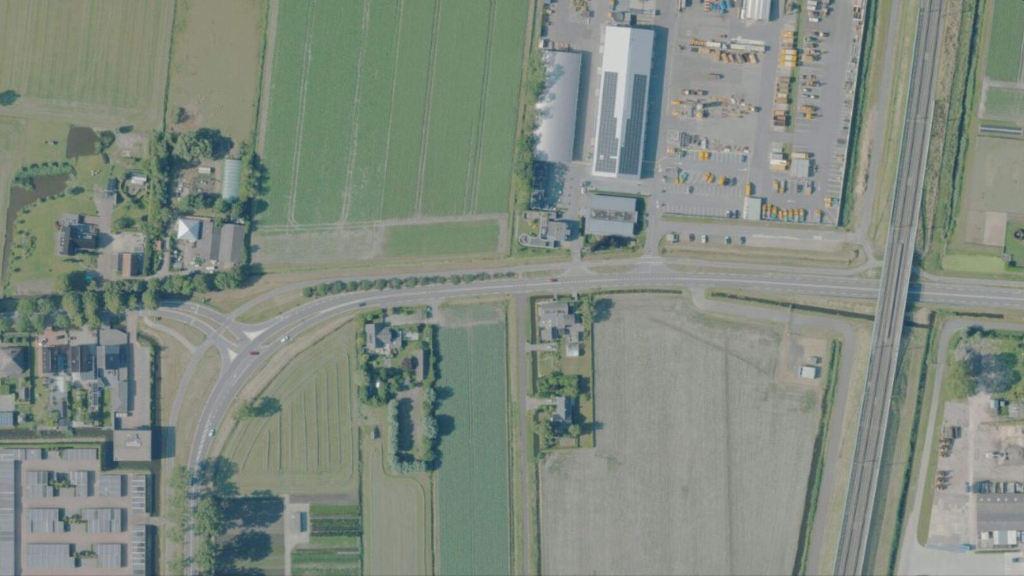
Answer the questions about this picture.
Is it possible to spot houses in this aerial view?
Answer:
Yes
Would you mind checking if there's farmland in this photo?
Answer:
Yes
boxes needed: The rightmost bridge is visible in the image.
[834,0,947,576]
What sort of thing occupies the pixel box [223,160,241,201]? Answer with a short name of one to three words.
greenhouse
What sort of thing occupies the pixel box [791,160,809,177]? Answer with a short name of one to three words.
shed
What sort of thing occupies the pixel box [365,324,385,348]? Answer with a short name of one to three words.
house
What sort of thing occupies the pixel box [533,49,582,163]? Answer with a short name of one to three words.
building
